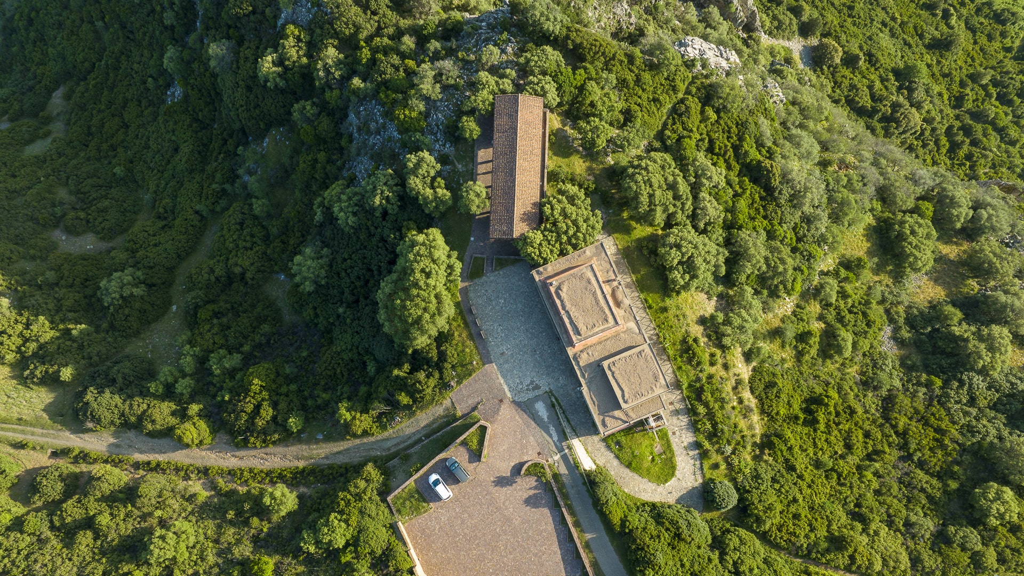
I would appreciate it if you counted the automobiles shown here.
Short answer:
two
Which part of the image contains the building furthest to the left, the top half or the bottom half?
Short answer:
top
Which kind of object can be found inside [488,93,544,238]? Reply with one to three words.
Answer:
building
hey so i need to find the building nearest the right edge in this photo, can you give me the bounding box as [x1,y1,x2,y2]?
[528,243,676,437]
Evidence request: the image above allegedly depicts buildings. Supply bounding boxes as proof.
[528,243,676,437]
[488,93,544,238]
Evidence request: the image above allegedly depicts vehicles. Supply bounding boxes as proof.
[447,455,471,486]
[430,472,453,503]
